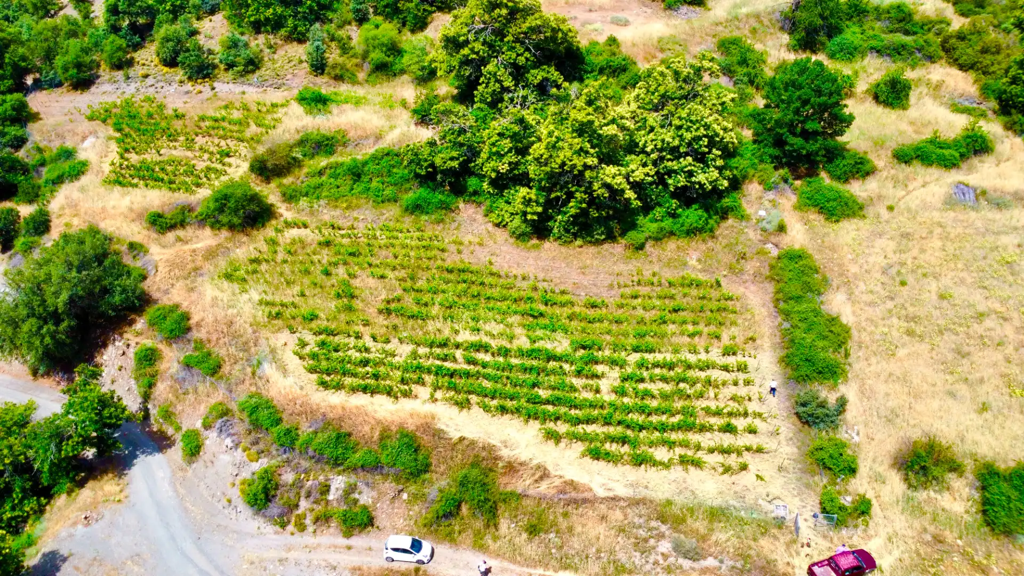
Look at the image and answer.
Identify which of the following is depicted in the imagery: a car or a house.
car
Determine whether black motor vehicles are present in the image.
No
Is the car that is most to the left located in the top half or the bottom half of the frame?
bottom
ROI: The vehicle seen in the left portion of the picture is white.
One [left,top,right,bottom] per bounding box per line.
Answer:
[384,533,433,564]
